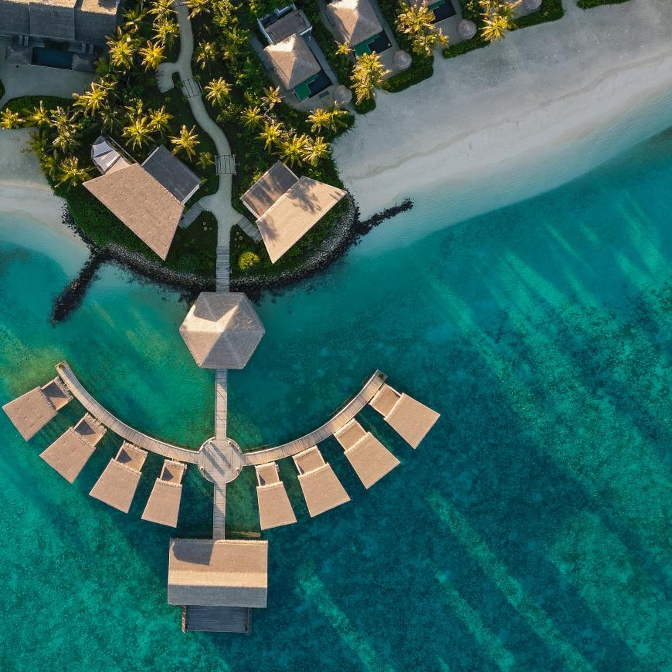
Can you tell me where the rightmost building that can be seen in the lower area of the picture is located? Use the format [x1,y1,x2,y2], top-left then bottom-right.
[367,381,440,449]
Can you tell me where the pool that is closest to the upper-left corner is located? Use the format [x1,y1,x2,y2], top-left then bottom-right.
[32,45,74,70]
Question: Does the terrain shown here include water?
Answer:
Yes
